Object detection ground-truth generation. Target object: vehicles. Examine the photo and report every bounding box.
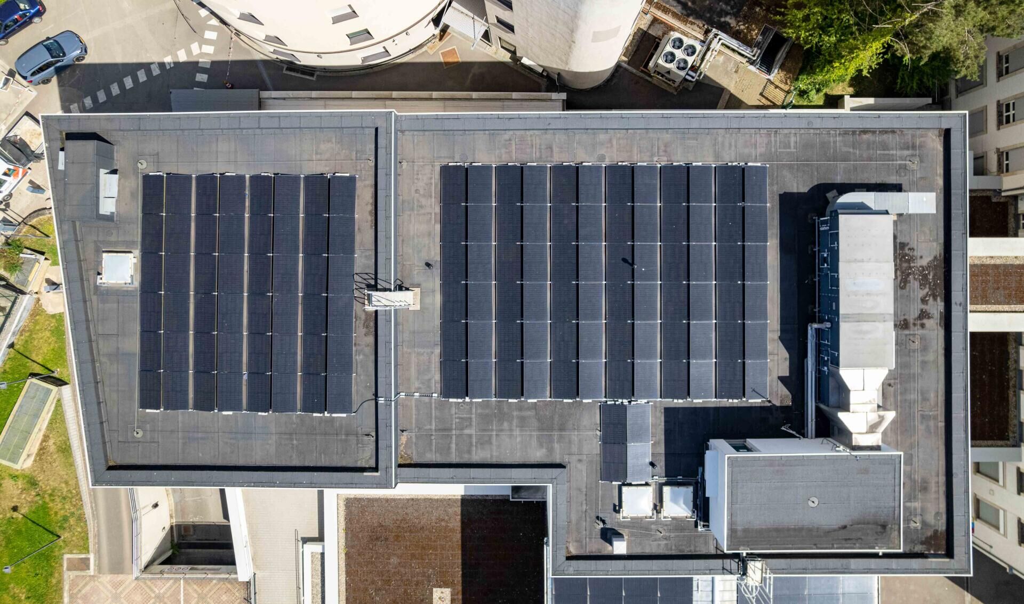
[0,108,43,195]
[0,0,48,50]
[10,30,91,90]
